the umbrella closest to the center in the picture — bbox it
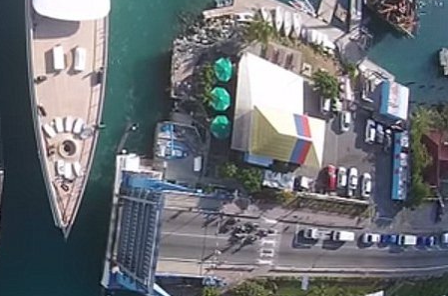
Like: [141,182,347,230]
[210,117,231,137]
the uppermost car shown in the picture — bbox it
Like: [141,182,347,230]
[320,96,332,112]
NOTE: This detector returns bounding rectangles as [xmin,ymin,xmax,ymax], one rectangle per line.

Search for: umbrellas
[210,117,231,137]
[209,88,231,110]
[212,59,233,81]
